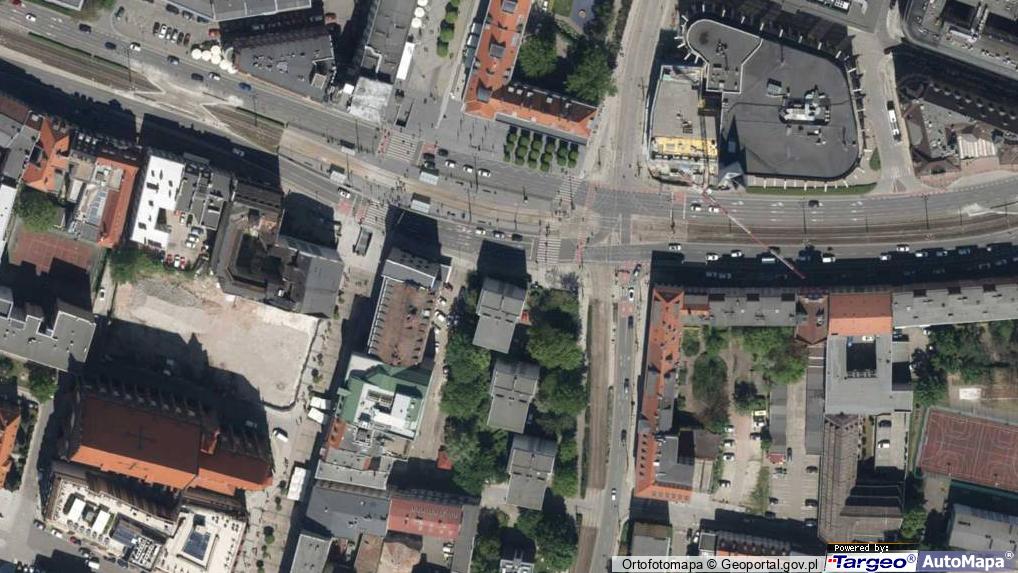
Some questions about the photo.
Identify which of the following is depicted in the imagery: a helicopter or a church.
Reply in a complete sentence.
Visible in the photo is a church.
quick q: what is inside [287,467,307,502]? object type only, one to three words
tent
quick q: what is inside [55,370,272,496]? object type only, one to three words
church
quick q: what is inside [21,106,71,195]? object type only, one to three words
building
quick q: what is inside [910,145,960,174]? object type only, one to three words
house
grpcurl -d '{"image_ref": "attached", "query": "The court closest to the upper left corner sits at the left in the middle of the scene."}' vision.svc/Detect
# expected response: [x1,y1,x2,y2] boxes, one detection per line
[5,230,98,308]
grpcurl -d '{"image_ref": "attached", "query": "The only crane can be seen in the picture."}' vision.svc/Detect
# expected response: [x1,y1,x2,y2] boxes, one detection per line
[671,156,802,277]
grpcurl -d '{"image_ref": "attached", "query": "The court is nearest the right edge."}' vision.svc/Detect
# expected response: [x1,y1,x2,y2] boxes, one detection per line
[919,408,1018,493]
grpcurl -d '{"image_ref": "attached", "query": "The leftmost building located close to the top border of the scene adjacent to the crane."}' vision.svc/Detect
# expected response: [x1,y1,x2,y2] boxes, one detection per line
[460,0,597,145]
